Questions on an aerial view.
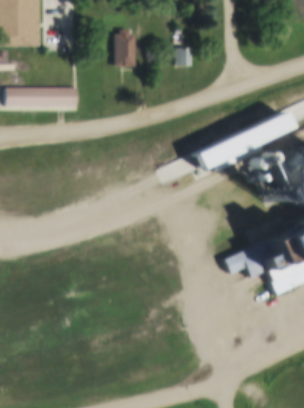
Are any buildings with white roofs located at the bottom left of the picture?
No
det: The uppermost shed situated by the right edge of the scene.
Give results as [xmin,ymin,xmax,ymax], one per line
[191,112,299,171]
